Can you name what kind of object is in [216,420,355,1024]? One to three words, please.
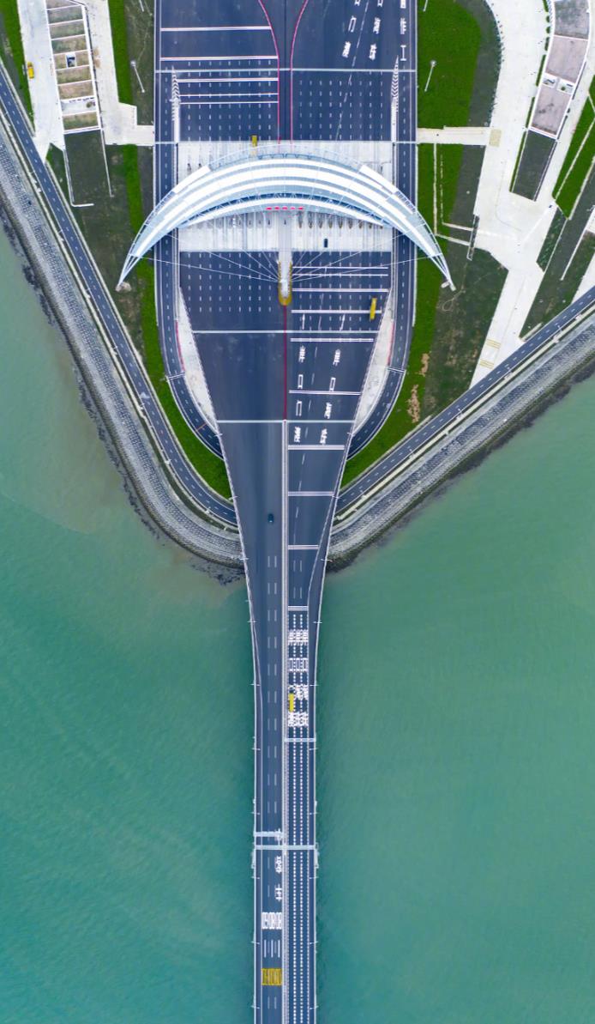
bridge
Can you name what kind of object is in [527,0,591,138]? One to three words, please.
building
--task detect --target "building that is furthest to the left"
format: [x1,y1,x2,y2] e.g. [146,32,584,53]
[44,0,103,137]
